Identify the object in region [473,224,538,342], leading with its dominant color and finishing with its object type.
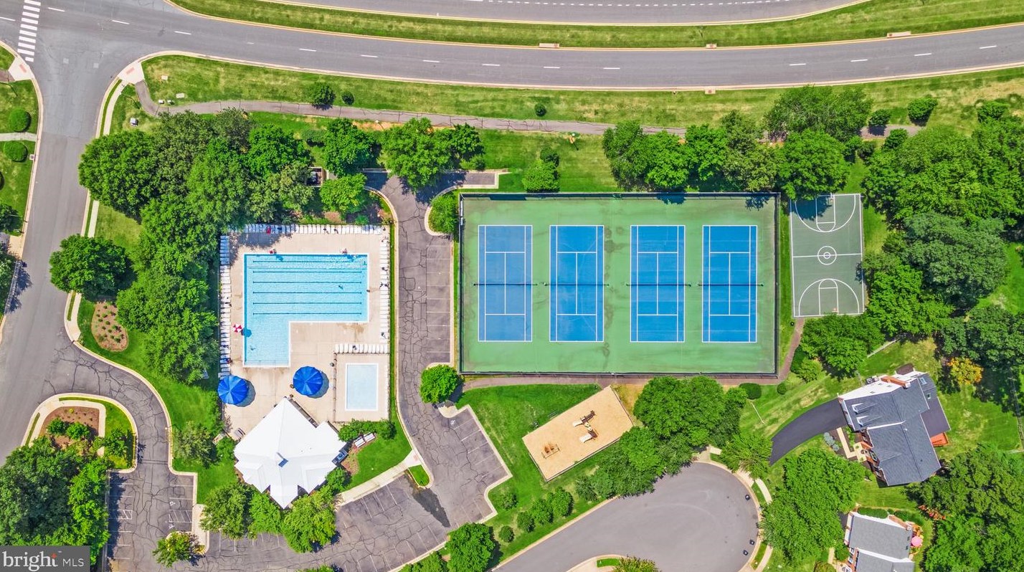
blue tennis court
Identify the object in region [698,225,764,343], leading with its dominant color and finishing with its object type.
blue tennis court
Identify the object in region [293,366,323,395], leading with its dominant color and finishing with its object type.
blue umbrella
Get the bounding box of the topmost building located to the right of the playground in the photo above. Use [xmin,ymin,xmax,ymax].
[835,363,954,485]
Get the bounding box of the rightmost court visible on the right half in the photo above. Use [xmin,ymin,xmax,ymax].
[789,193,865,318]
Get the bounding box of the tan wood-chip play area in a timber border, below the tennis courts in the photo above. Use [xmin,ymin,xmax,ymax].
[520,384,631,482]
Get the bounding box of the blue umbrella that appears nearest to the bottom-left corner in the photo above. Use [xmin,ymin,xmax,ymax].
[219,375,249,404]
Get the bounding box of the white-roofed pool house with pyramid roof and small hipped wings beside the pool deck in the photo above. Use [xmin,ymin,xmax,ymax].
[234,398,347,508]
